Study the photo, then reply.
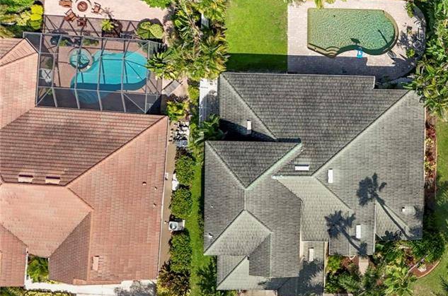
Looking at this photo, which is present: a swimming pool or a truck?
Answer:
swimming pool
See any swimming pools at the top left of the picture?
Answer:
Yes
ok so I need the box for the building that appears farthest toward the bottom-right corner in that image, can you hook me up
[202,72,425,296]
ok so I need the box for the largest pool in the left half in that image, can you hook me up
[69,46,152,105]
